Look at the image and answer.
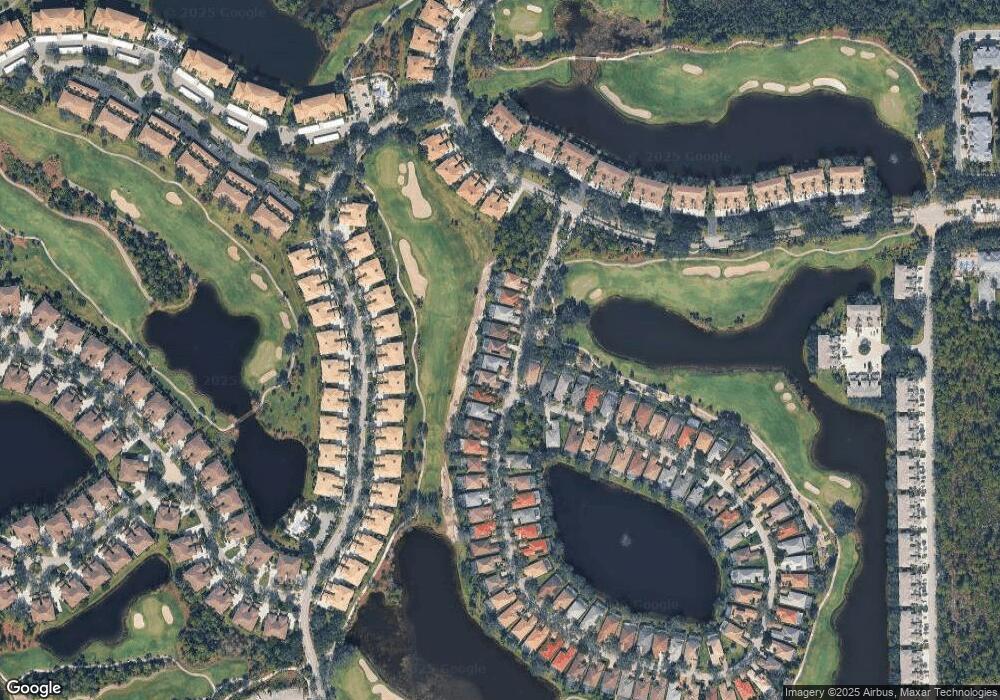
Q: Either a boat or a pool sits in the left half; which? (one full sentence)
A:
It is a pool that can be seen in the left half.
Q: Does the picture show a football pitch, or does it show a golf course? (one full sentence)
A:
There is a golf course in the scene.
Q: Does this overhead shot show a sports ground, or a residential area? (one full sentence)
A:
This image shows a residential area.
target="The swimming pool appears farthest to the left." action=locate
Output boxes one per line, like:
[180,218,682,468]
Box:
[148,26,182,53]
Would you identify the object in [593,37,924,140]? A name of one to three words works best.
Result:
golf course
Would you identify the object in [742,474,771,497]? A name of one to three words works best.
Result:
house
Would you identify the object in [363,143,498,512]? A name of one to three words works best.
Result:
golf course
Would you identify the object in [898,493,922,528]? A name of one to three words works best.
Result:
building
